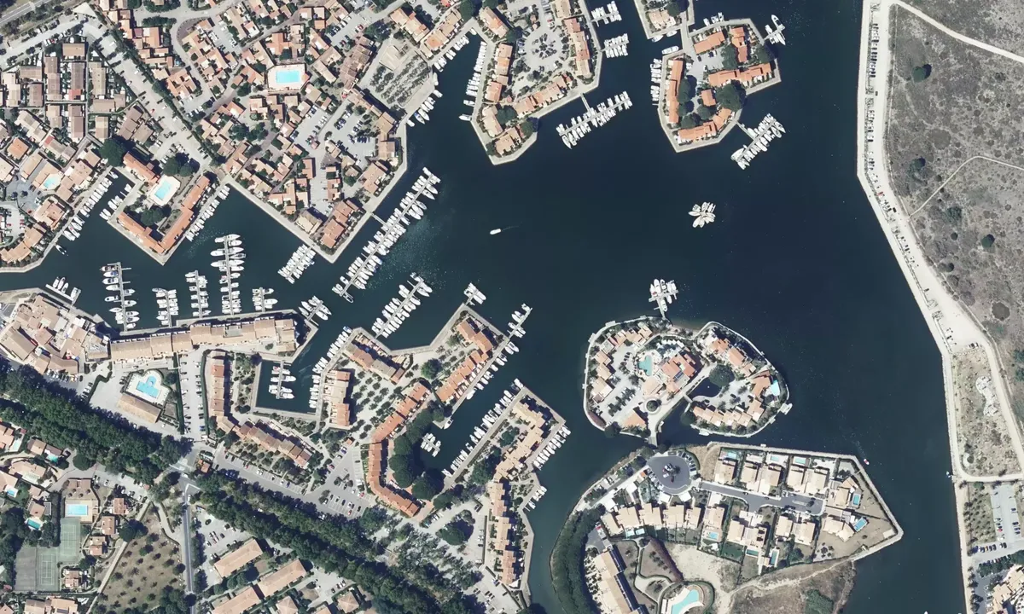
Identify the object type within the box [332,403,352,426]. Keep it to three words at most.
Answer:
building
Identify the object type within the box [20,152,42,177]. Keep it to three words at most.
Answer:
house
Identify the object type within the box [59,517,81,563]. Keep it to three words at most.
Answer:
tennis court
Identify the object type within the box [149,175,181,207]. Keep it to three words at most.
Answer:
swimming pool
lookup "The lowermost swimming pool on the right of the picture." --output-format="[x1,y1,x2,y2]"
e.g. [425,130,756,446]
[665,586,704,614]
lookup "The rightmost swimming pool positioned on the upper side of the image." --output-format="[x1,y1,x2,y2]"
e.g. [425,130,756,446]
[268,64,307,90]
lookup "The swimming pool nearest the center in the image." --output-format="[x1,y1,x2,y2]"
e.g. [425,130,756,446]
[634,350,661,379]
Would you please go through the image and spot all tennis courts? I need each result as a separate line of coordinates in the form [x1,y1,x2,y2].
[36,547,59,591]
[14,547,36,591]
[59,517,81,563]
